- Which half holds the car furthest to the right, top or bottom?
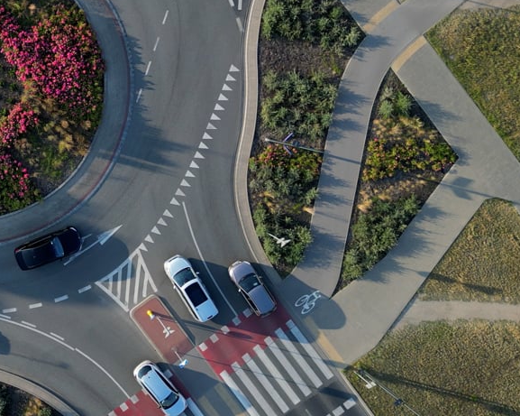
bottom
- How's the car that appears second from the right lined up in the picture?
at an angle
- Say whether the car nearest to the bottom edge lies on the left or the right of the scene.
left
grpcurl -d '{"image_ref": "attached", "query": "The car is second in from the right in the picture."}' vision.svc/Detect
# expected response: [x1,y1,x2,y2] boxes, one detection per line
[163,254,219,322]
